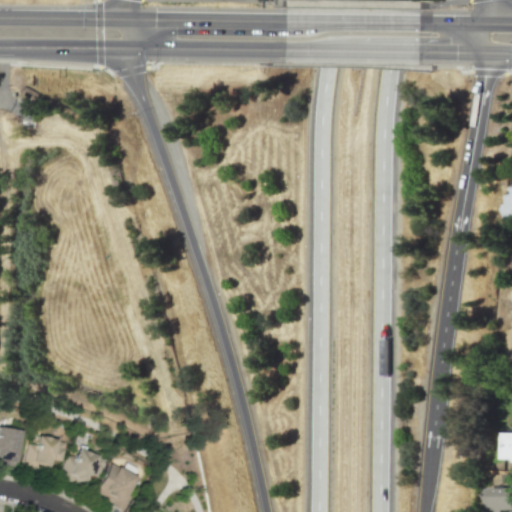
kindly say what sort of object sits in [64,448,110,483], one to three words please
house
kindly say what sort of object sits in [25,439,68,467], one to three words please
house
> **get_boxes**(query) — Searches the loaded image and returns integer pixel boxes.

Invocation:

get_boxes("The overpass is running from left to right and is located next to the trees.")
[286,0,433,71]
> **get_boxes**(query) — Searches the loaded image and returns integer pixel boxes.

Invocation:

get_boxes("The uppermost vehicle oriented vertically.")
[470,82,482,127]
